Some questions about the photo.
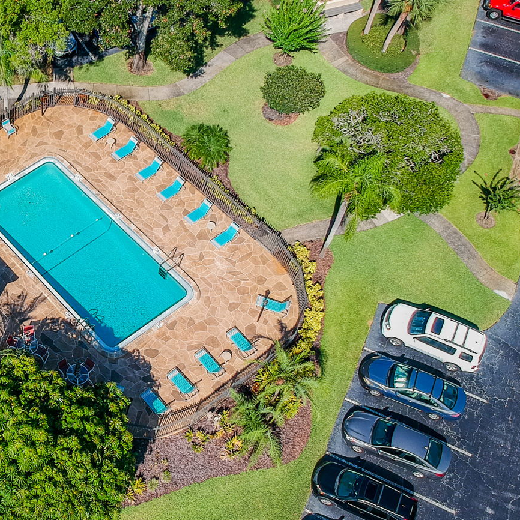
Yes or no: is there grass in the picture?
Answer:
Yes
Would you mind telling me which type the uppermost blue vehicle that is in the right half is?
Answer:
car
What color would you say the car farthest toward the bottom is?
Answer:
black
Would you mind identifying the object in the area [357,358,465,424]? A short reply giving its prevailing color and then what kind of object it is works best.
blue car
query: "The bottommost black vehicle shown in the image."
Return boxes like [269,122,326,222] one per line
[306,461,417,520]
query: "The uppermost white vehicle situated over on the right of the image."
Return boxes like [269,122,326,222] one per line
[377,306,486,376]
